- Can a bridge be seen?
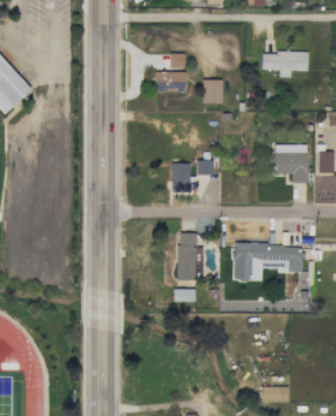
Yes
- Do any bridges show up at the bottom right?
No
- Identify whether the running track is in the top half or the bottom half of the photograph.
bottom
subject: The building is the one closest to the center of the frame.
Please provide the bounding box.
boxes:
[172,162,190,192]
